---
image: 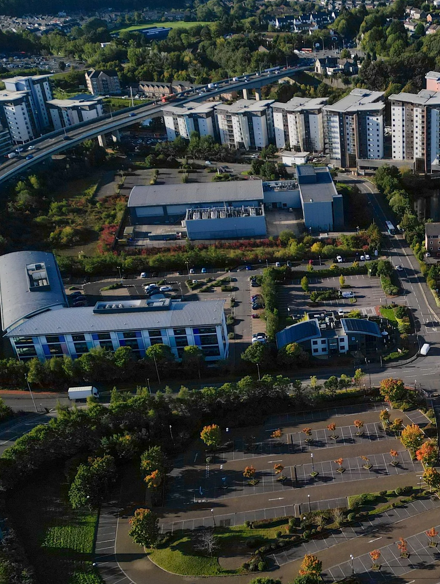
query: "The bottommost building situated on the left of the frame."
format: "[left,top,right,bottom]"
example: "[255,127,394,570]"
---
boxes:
[0,248,230,365]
